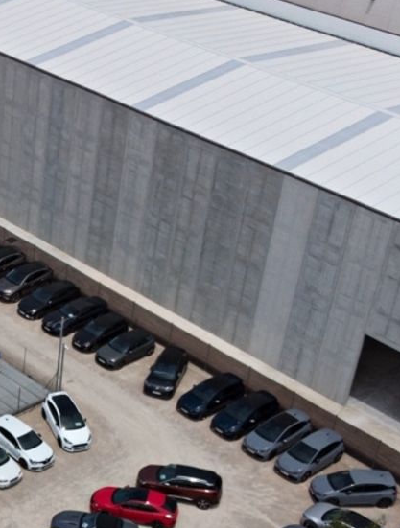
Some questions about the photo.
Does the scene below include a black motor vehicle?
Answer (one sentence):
Yes, looking at the shot, I can spot a black motor vehicle.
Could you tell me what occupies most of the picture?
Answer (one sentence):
For the most part, this view shows buildings.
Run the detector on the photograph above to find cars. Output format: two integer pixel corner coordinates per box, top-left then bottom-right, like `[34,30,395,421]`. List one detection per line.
[242,409,305,461]
[174,366,240,420]
[301,503,382,528]
[208,384,275,439]
[90,484,181,528]
[0,263,47,302]
[71,309,127,351]
[48,509,139,528]
[0,443,24,488]
[137,460,225,508]
[143,340,189,396]
[272,427,339,480]
[37,297,99,338]
[40,395,87,450]
[0,414,53,469]
[310,467,398,506]
[95,326,153,369]
[18,279,74,321]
